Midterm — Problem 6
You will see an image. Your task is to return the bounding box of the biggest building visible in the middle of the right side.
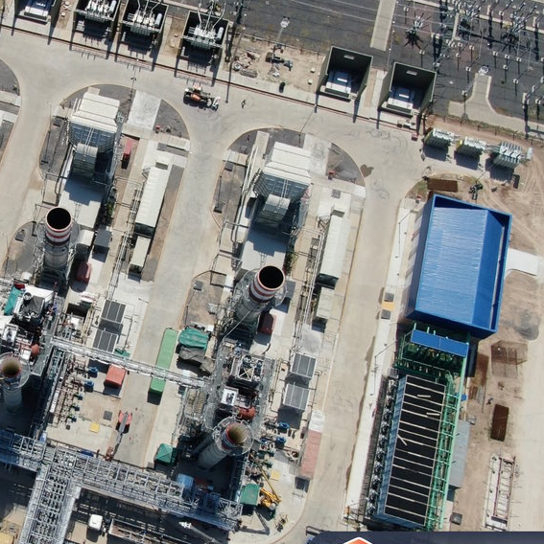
[392,193,514,350]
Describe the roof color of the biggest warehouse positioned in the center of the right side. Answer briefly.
blue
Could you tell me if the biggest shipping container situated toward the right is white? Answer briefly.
Yes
